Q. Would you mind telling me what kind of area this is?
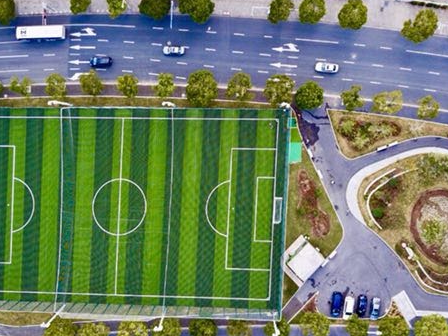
sports ground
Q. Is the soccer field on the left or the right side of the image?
left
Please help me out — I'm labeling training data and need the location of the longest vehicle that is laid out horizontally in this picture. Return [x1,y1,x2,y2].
[13,24,69,40]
